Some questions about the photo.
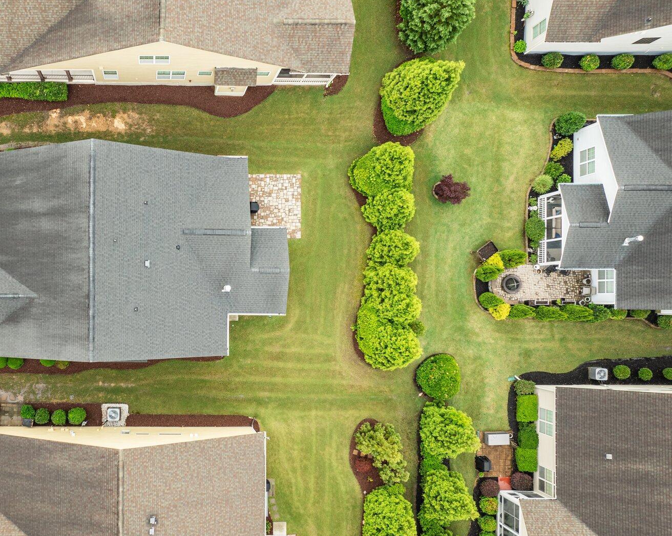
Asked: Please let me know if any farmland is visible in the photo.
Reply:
No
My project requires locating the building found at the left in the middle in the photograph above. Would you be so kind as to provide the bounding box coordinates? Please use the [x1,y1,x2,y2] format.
[0,139,289,362]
